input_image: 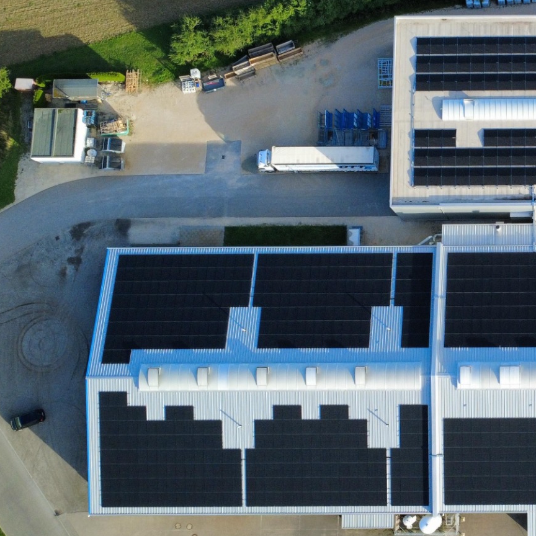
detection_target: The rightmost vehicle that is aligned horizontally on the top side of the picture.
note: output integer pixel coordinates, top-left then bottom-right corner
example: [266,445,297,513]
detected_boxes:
[257,145,383,173]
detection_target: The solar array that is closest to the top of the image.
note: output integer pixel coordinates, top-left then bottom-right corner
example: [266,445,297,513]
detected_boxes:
[414,36,536,93]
